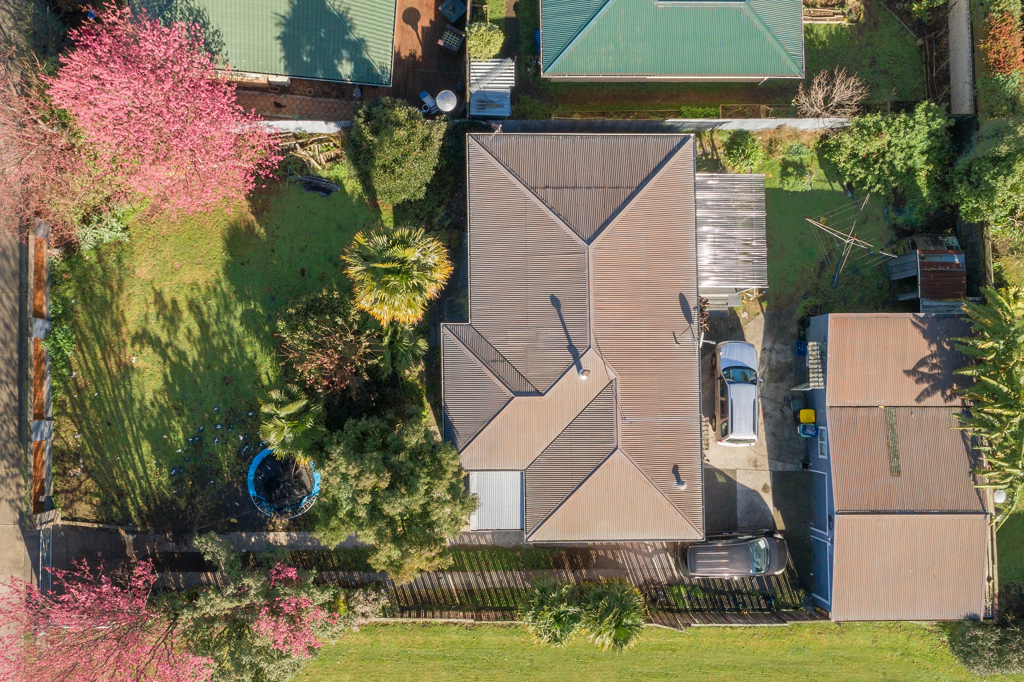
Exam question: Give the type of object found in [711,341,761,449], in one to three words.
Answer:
car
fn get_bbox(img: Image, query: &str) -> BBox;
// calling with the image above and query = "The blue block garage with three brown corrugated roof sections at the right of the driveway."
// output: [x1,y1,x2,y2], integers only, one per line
[792,314,987,622]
